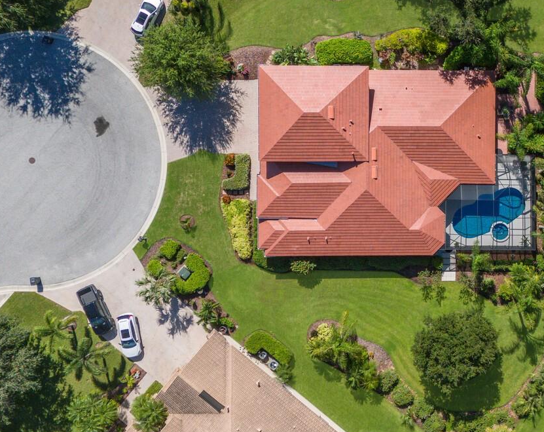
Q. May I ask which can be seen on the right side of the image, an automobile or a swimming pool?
swimming pool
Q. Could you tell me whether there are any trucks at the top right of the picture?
No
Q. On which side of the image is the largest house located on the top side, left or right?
right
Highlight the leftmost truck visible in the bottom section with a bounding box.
[77,280,119,338]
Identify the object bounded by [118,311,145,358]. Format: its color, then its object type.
white car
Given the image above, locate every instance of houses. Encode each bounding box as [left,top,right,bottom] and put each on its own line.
[123,330,341,432]
[256,66,496,257]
